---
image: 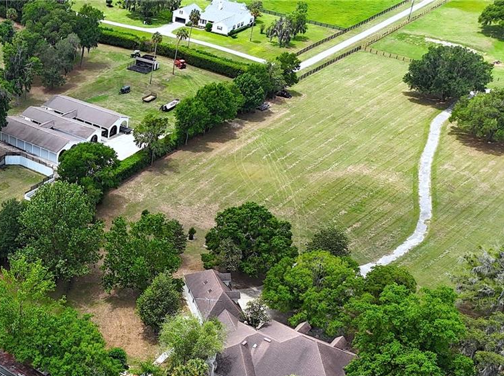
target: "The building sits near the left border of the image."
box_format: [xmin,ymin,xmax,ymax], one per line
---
[0,93,135,164]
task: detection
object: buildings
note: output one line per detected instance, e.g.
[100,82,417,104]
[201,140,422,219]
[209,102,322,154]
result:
[136,58,162,70]
[183,268,376,376]
[0,93,135,164]
[173,5,269,36]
